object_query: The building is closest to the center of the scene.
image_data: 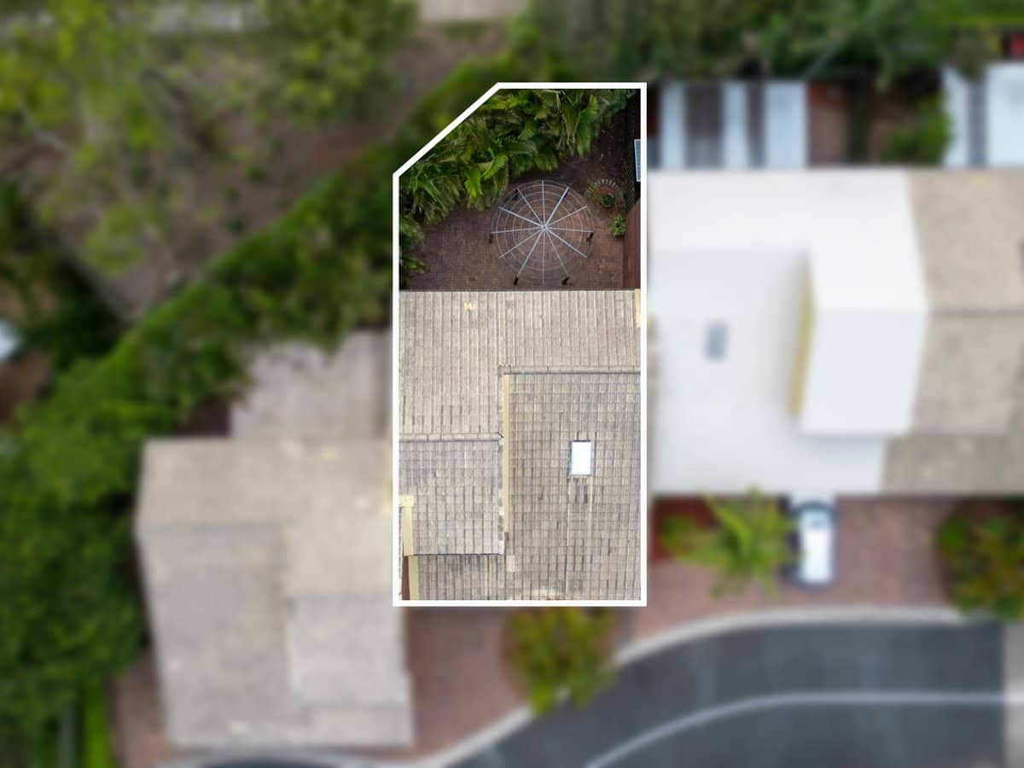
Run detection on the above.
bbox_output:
[387,287,660,606]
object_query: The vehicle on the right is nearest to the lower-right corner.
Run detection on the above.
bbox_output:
[780,497,838,589]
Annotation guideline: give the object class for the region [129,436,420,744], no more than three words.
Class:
house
